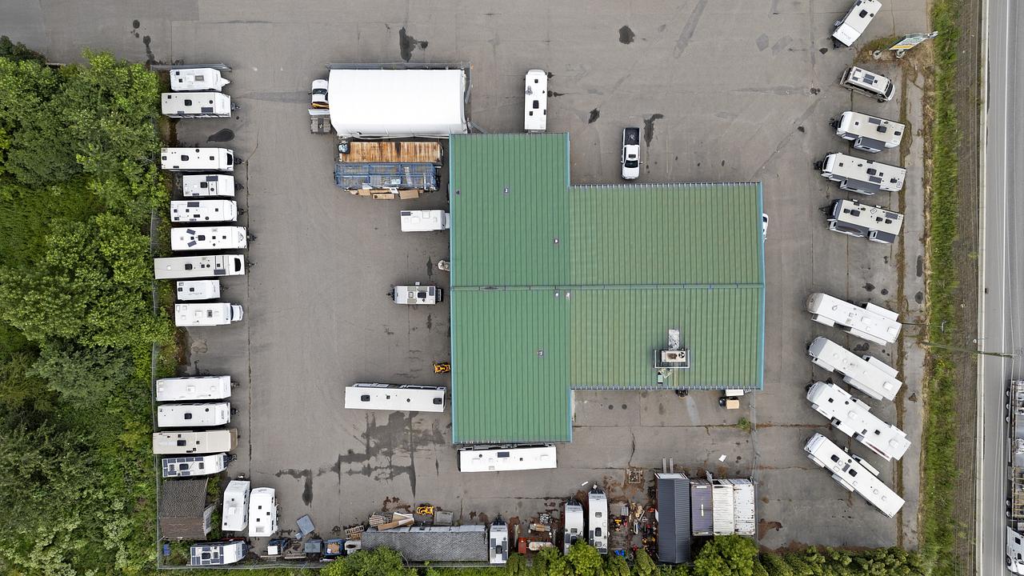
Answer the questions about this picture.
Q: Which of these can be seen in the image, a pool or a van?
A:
van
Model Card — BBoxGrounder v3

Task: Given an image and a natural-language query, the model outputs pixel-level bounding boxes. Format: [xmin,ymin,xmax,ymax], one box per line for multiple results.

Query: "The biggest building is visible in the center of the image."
[449,132,765,445]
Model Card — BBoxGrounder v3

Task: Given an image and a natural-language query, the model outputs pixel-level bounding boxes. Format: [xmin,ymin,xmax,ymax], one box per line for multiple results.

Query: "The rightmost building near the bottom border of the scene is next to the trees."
[655,474,690,564]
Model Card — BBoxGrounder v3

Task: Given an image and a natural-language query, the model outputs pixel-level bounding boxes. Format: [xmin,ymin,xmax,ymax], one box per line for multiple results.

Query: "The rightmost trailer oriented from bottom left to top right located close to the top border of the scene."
[829,0,881,47]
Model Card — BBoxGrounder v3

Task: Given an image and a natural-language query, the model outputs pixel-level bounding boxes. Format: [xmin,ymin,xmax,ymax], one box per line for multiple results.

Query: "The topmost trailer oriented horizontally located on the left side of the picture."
[171,68,232,94]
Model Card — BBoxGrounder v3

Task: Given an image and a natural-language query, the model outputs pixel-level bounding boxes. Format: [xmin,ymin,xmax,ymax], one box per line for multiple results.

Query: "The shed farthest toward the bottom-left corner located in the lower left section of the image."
[160,477,210,539]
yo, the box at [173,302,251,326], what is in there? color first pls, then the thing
white camper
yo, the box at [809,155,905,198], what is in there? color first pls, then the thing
white trailer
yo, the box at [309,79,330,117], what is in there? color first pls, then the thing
white truck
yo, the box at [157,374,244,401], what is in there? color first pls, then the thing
white trailer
